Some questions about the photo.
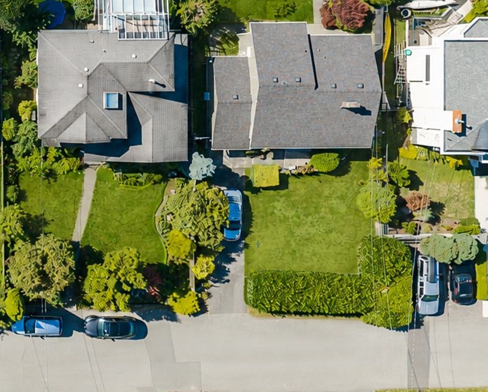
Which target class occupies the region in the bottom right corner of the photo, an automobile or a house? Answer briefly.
automobile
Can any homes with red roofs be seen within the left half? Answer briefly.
No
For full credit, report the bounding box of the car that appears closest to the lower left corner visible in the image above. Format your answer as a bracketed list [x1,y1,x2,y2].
[9,312,65,339]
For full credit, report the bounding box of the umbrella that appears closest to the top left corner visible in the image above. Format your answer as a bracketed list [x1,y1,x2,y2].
[36,0,65,29]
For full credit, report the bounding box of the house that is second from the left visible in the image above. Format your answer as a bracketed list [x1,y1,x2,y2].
[204,22,383,150]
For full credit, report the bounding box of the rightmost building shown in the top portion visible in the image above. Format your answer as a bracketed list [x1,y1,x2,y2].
[381,19,488,155]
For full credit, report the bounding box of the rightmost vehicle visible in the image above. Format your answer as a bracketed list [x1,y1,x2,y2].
[446,260,477,314]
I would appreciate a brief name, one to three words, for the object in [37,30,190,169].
house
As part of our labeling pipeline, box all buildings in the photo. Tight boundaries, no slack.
[381,19,488,155]
[204,22,383,150]
[37,30,190,169]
